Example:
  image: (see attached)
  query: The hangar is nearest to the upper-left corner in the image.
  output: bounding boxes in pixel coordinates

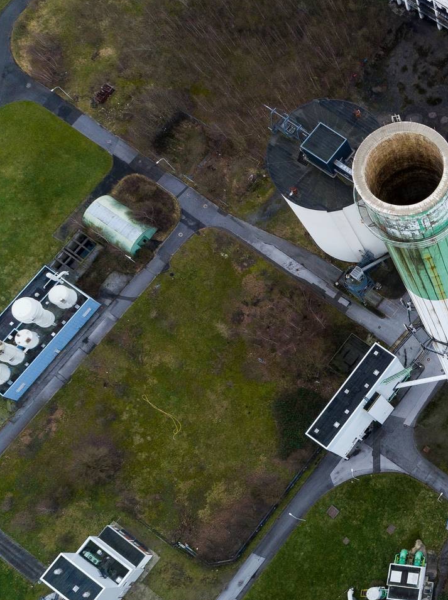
[85,196,158,258]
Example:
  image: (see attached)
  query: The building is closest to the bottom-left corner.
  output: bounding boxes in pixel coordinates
[40,527,166,600]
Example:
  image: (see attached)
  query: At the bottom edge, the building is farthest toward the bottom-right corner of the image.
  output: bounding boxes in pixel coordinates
[387,563,424,600]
